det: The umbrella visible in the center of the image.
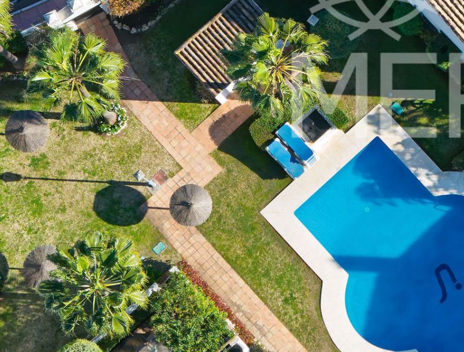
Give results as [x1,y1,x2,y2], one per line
[168,182,213,228]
